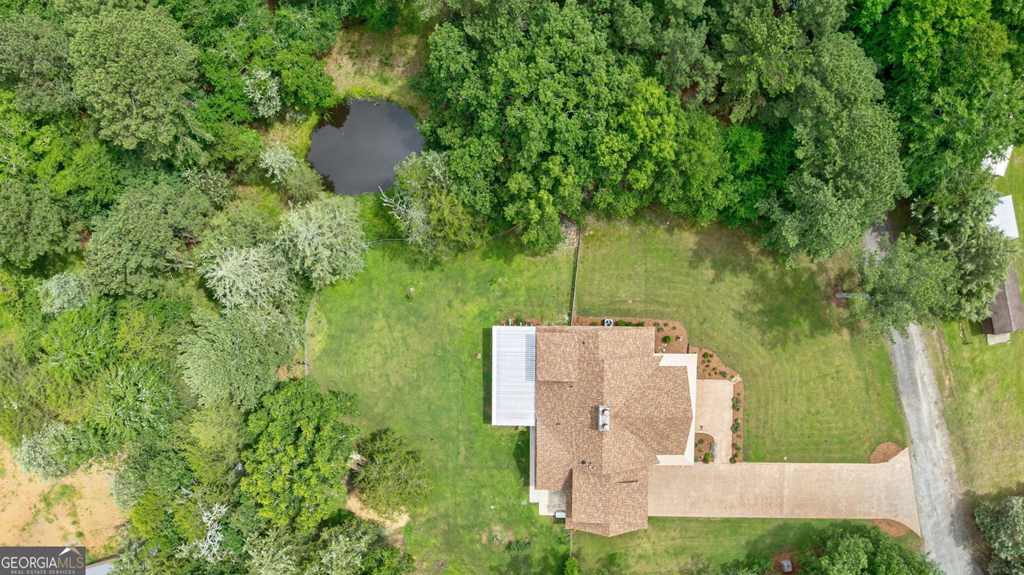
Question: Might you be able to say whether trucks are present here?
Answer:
No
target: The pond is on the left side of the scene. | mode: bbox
[297,94,428,197]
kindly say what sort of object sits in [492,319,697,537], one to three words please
house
